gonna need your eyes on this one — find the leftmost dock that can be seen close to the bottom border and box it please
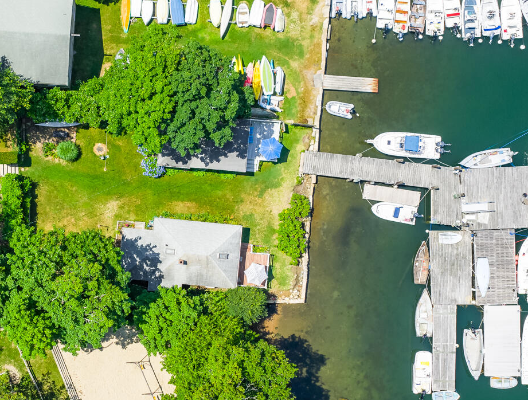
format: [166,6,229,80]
[431,304,457,391]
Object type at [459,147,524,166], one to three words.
boat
